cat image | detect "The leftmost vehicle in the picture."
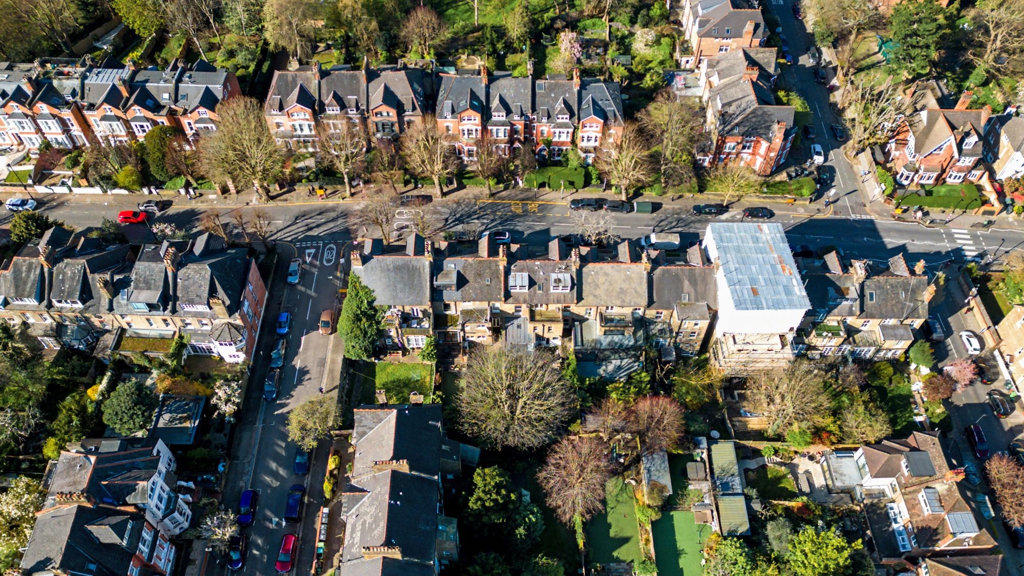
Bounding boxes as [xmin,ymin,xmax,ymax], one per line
[3,198,38,212]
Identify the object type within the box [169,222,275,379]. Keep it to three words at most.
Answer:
house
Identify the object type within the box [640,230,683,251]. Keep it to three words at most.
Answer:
vehicle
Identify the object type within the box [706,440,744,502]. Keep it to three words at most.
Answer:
shed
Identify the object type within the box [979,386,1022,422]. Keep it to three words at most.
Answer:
car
